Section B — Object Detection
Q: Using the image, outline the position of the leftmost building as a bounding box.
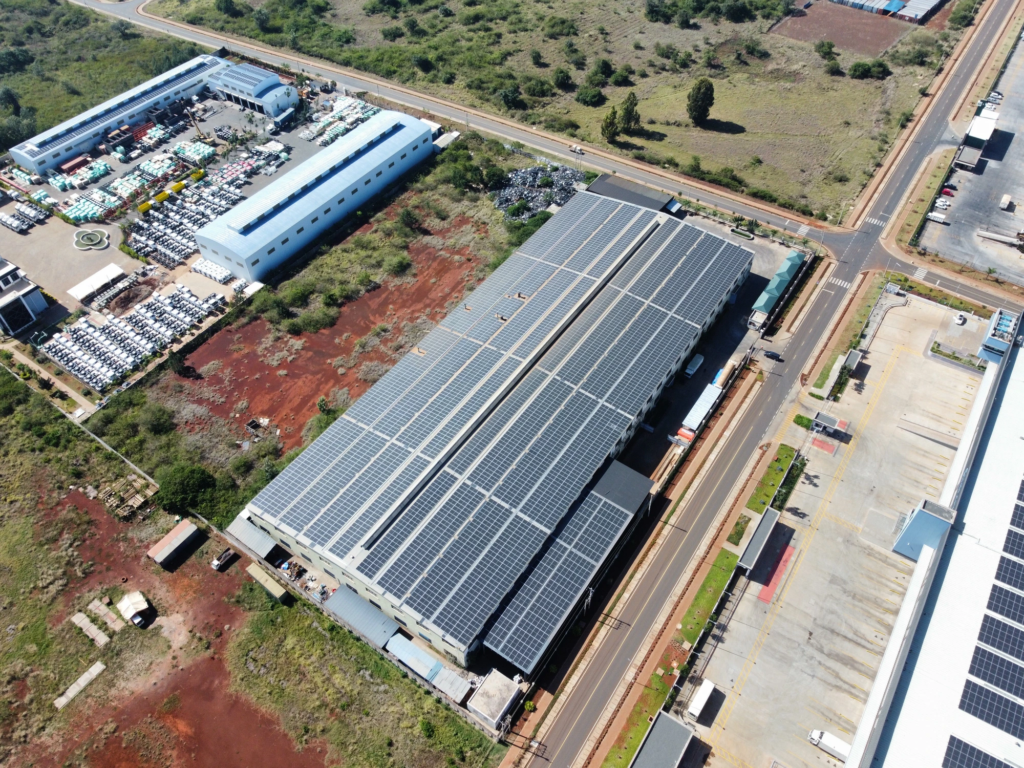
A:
[0,254,50,344]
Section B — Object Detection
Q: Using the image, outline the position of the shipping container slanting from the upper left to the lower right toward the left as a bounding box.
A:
[246,563,288,604]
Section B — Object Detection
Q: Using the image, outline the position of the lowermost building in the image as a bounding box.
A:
[633,711,693,768]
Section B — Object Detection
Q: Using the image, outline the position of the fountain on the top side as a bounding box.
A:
[72,226,108,249]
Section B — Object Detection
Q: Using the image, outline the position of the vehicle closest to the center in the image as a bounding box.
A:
[682,349,709,378]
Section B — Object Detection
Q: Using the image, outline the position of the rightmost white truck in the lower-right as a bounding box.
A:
[778,714,850,767]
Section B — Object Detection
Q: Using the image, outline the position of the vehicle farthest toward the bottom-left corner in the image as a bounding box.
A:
[125,609,147,631]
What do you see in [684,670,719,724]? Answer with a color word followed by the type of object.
white truck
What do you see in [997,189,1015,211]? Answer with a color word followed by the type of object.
white vehicle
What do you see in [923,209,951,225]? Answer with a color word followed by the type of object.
white vehicle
